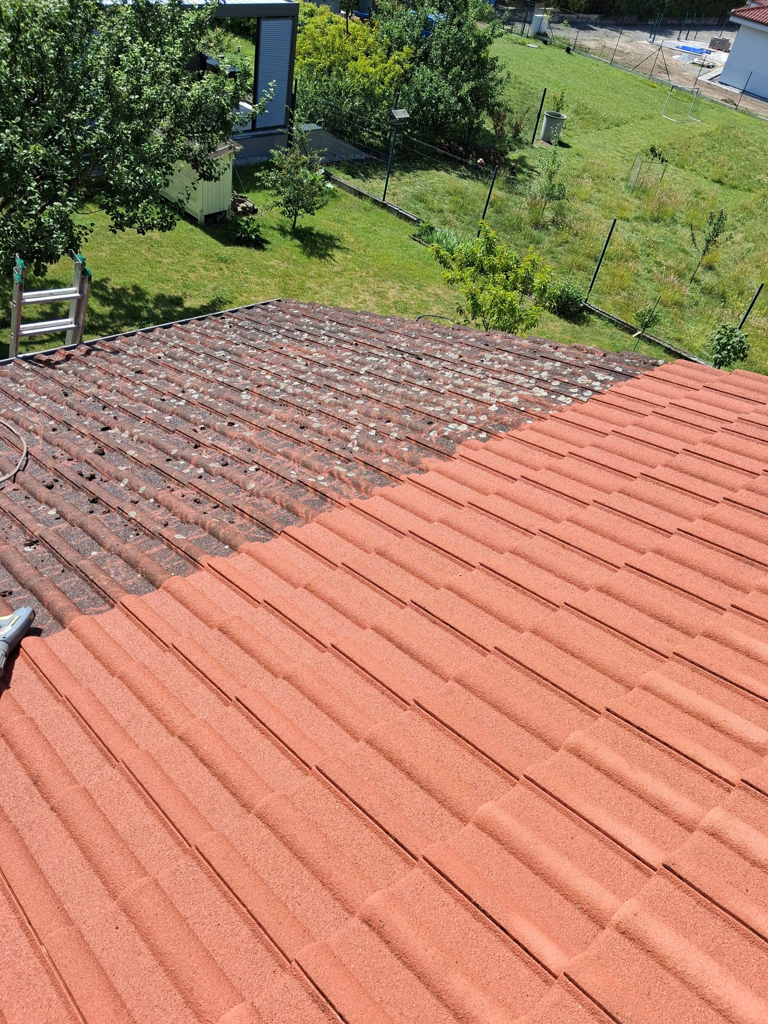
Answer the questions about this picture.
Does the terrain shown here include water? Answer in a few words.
No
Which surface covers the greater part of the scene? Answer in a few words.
buildings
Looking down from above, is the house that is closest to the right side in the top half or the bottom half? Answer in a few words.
top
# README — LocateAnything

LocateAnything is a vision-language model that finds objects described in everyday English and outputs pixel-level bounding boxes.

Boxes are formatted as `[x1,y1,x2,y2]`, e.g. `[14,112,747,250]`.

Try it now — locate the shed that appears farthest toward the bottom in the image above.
[0,290,768,1024]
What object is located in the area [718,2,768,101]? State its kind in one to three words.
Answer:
house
